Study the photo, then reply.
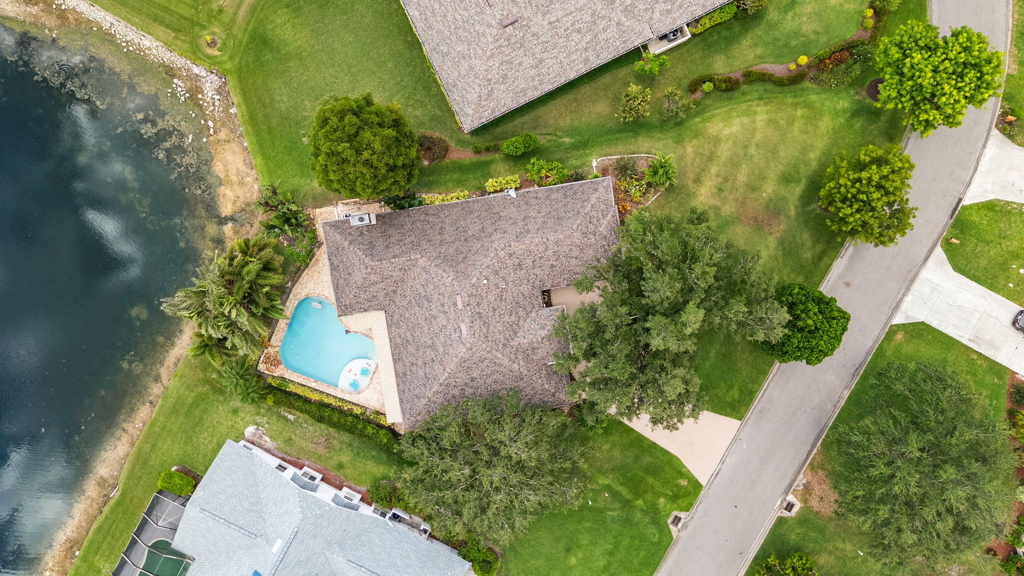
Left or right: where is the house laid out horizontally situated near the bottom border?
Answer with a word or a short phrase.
left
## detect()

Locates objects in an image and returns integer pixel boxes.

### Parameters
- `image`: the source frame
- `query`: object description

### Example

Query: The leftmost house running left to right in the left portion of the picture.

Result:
[167,437,473,576]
